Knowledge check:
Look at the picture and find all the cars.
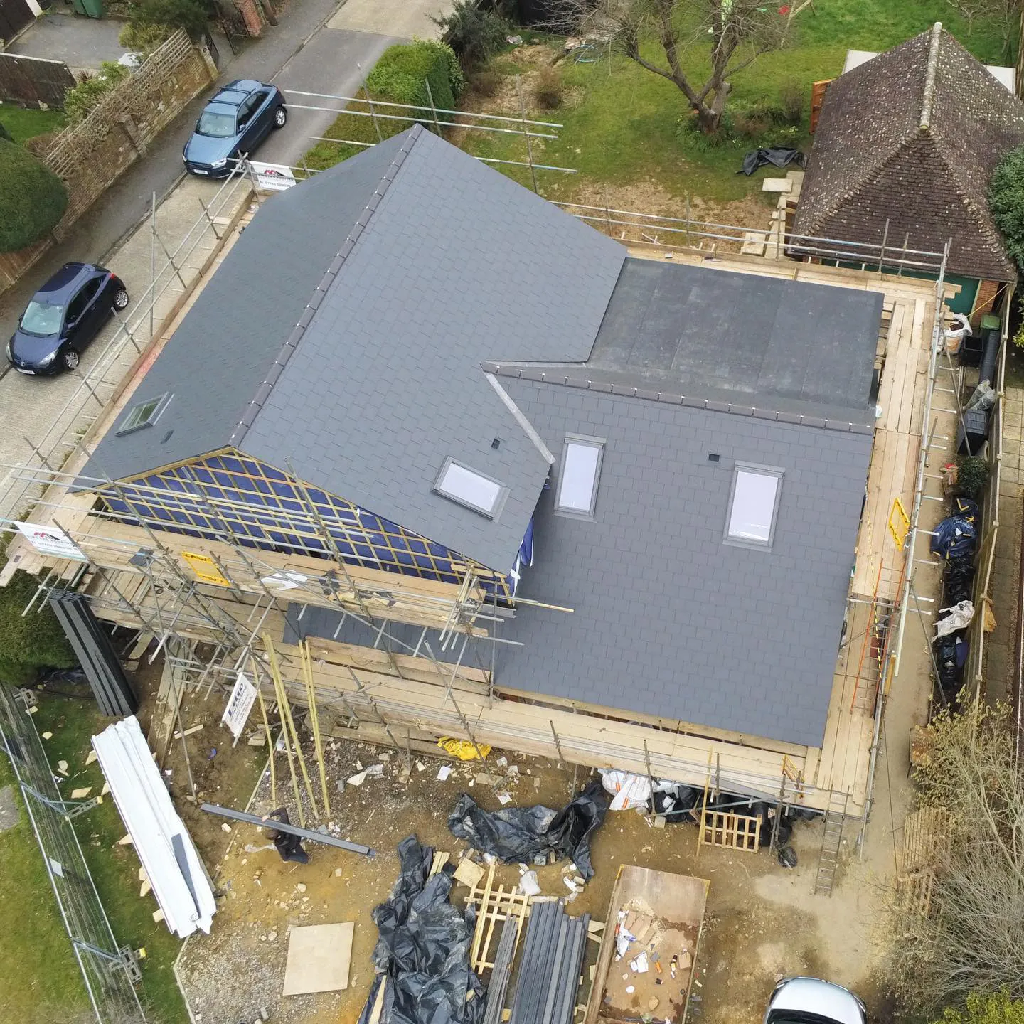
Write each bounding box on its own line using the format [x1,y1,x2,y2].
[169,77,286,181]
[767,973,867,1024]
[0,261,124,380]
